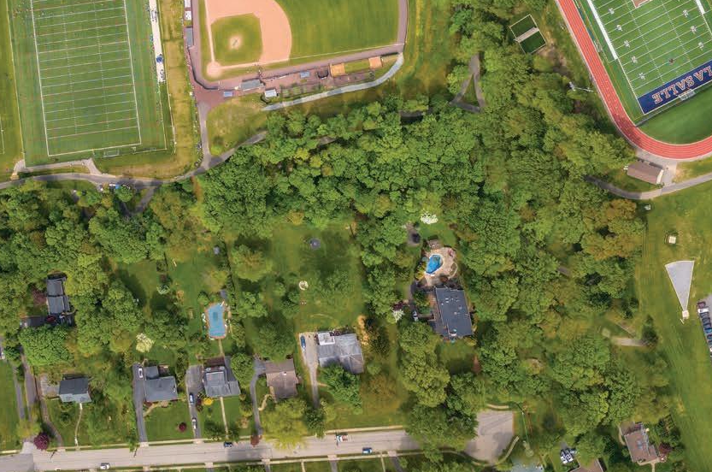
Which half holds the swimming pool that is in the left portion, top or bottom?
bottom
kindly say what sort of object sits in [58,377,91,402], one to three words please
house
